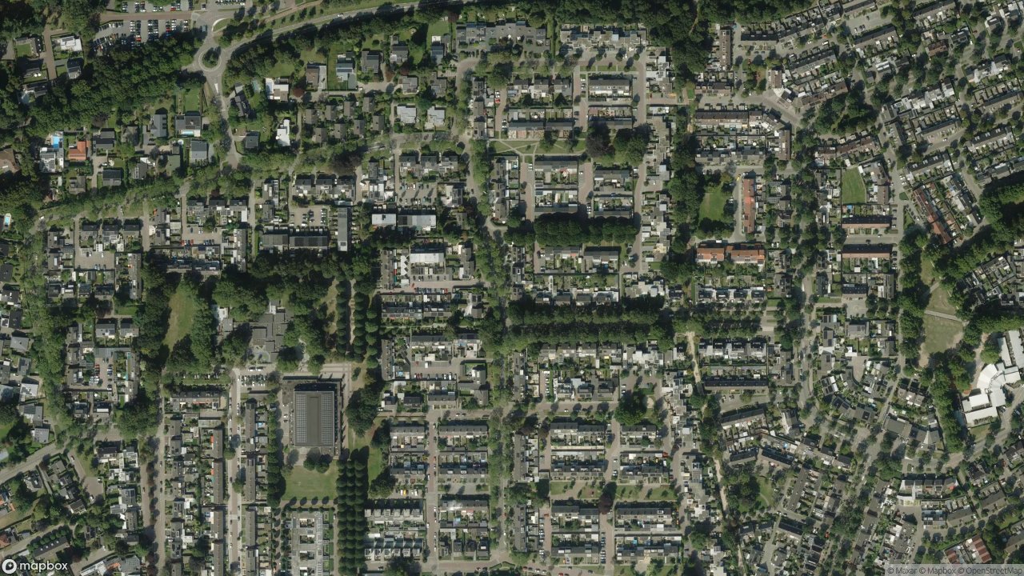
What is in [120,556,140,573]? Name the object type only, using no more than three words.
building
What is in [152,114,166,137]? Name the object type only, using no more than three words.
house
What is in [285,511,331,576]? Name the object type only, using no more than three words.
building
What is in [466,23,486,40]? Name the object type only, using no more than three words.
house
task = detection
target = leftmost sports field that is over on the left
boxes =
[284,468,336,500]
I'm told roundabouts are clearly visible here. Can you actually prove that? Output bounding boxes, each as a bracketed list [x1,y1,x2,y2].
[190,40,229,79]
